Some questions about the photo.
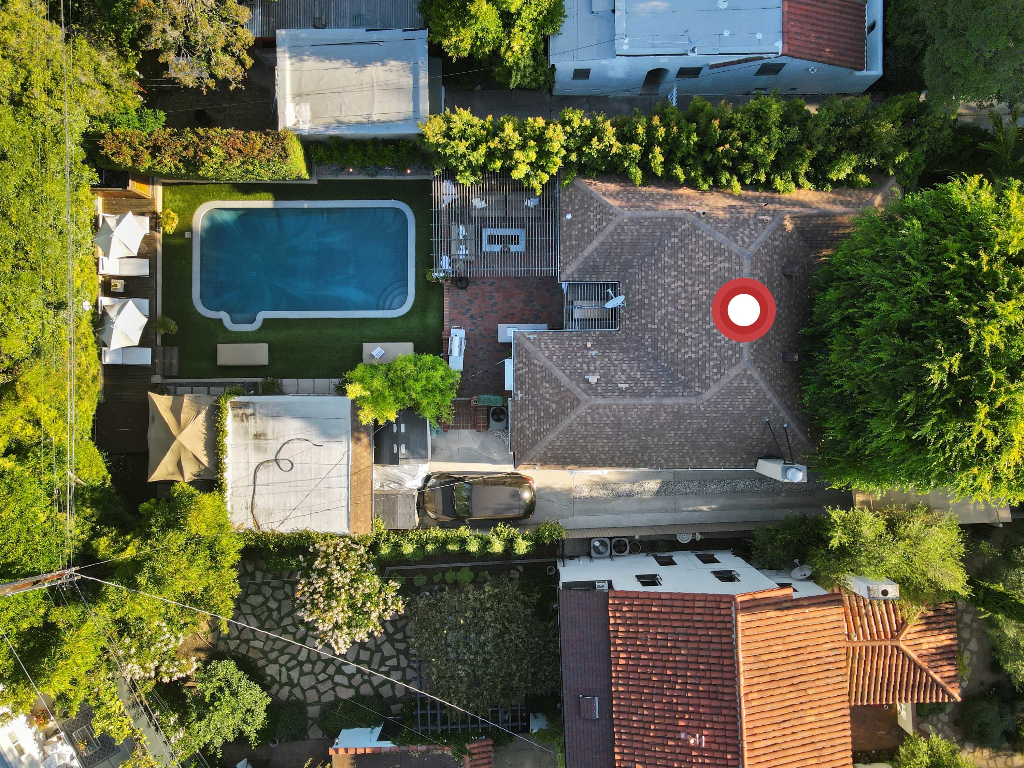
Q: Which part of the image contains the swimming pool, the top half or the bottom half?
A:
top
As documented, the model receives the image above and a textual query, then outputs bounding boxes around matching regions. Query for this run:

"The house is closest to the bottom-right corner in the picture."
[557,545,966,768]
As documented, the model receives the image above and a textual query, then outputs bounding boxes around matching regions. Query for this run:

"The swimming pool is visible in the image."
[192,200,414,332]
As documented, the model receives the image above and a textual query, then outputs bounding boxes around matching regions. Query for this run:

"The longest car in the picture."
[423,475,535,529]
